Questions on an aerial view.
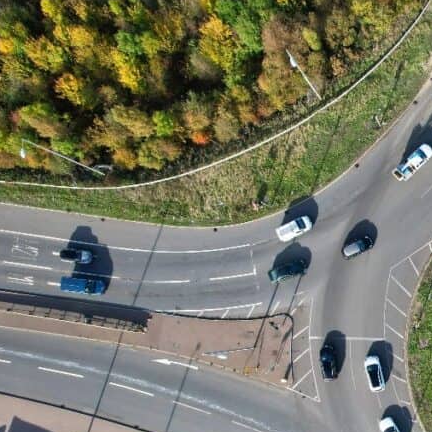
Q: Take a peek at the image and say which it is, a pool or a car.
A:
car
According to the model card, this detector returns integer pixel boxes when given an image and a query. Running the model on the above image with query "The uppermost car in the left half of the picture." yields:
[60,248,95,265]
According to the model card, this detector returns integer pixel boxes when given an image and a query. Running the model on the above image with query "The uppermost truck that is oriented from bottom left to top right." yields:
[393,145,432,182]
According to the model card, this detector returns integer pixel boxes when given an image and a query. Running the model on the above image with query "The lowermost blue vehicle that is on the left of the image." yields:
[60,276,107,295]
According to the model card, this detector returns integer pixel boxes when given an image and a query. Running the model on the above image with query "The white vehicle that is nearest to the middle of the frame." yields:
[273,216,315,243]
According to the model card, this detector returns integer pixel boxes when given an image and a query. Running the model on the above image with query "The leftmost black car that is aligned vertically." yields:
[319,343,338,381]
